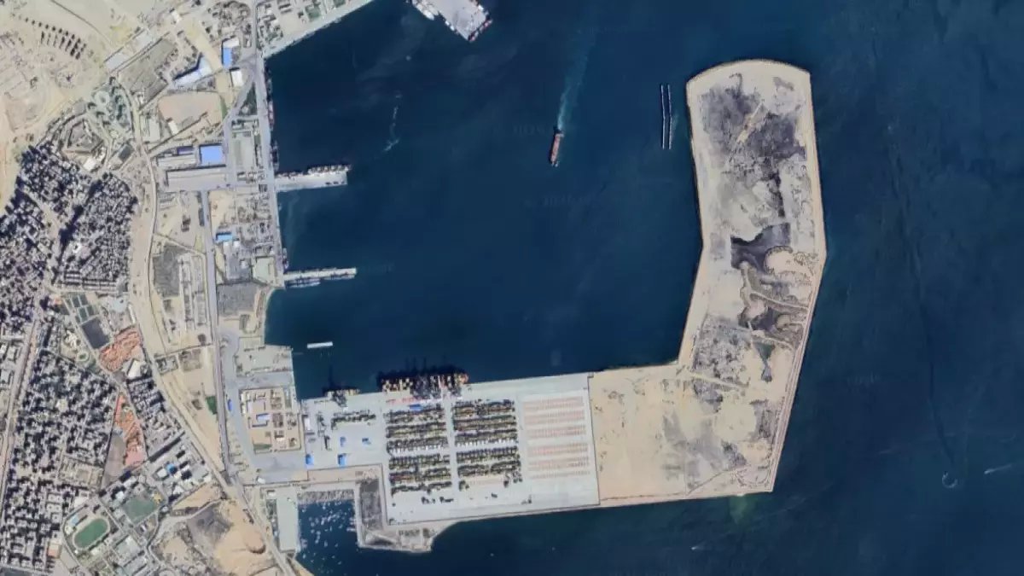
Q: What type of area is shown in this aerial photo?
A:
port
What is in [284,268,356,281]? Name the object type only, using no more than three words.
pier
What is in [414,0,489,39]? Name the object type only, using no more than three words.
pier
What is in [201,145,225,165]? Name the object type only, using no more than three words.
building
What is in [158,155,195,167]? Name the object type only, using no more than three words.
building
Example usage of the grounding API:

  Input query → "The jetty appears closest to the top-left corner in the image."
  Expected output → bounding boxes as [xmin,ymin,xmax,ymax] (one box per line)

[274,172,347,192]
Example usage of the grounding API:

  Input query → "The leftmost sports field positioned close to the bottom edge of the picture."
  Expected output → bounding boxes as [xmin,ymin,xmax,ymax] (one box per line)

[74,517,109,548]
